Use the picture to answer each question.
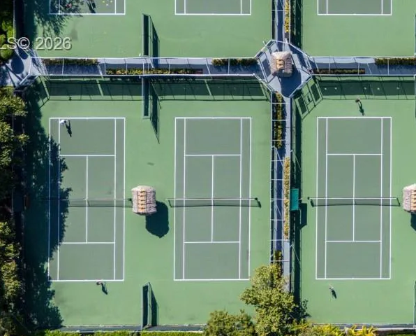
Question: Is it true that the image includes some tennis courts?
Yes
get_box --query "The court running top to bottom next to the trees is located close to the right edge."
[295,76,416,325]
